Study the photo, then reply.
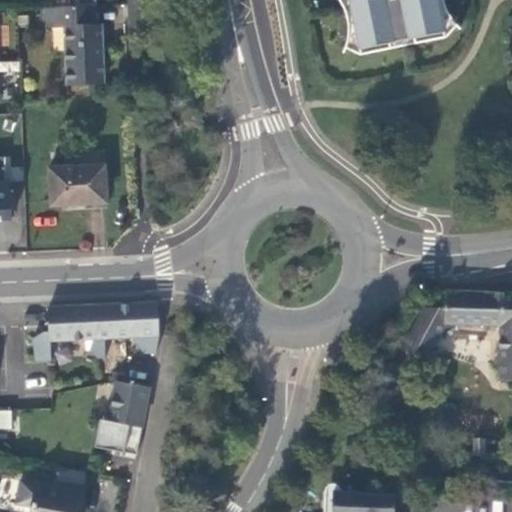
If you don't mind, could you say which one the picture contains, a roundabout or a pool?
roundabout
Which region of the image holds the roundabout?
center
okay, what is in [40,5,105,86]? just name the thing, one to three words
house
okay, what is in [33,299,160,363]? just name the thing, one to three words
house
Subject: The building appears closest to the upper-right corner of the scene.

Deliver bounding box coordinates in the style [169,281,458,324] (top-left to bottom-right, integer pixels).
[340,0,463,54]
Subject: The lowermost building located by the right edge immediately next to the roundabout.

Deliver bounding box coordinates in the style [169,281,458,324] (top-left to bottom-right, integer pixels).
[404,290,512,352]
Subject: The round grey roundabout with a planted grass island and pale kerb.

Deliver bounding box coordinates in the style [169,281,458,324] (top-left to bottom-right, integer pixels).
[205,168,384,347]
